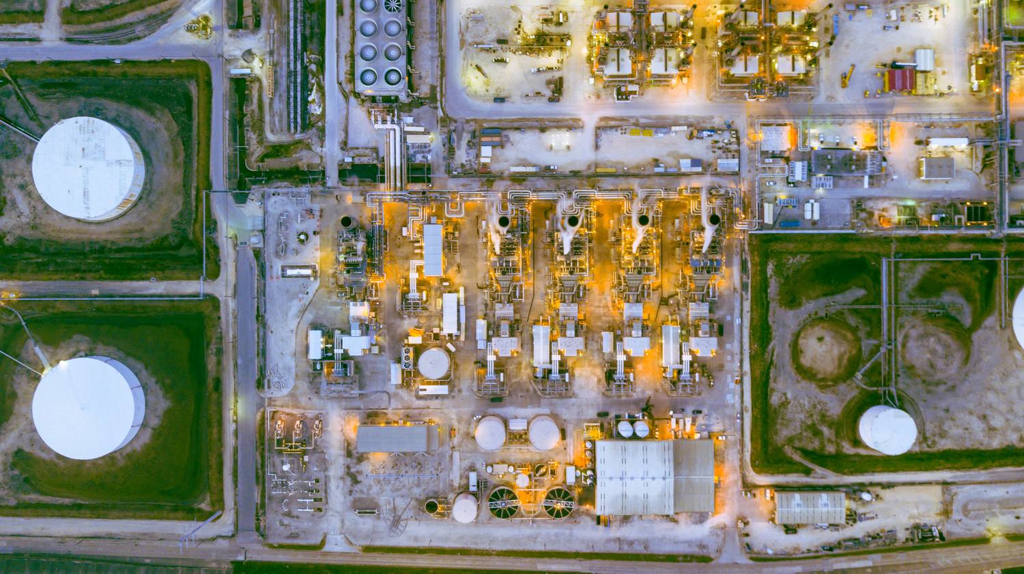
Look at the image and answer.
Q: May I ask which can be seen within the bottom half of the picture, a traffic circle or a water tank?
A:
water tank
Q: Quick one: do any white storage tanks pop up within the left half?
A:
Yes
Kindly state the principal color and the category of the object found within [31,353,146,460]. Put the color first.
white storage tank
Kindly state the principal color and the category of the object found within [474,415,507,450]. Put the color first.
white water tank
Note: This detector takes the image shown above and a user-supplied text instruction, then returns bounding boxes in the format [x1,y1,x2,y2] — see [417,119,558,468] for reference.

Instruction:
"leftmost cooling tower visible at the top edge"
[354,0,416,107]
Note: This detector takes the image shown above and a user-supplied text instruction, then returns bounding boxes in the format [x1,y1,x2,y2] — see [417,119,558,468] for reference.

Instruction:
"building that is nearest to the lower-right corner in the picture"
[774,489,846,524]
